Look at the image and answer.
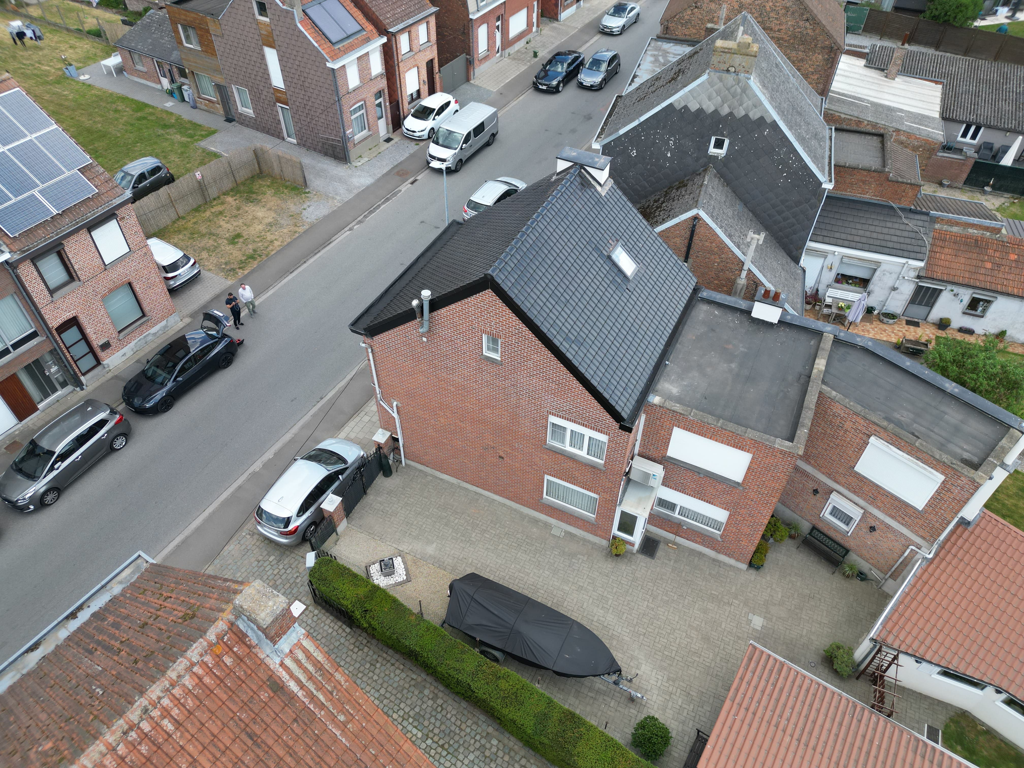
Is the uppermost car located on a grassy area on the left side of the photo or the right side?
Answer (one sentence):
The uppermost car located on a grassy area is on the left side of the image.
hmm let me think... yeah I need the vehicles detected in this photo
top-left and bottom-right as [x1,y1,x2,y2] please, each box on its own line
[247,435,365,553]
[0,401,134,518]
[577,50,622,89]
[115,309,239,420]
[599,4,640,35]
[463,177,529,227]
[532,52,585,93]
[401,94,456,138]
[111,151,178,200]
[422,104,499,174]
[151,236,205,296]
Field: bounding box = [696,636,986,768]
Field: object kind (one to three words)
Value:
building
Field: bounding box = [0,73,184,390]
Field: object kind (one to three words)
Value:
house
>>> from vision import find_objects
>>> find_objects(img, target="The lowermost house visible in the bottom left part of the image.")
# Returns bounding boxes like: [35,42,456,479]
[0,552,433,768]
